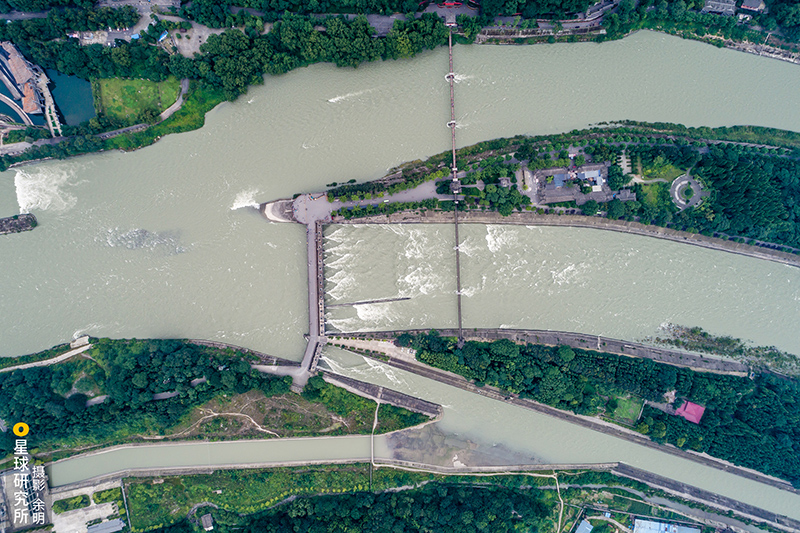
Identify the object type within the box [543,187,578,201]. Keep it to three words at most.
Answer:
building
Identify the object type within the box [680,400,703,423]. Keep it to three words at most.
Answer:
house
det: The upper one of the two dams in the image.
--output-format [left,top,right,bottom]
[308,219,328,337]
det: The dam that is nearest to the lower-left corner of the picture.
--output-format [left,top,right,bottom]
[298,334,327,373]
